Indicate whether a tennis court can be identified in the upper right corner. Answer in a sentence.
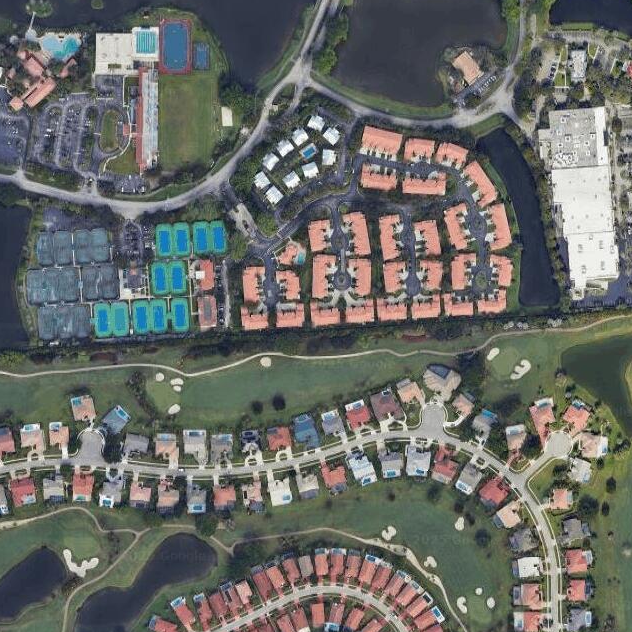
No, no tennis court is visible in the upper right corner.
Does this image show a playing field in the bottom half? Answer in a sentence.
No, no playing field is visible in the bottom half.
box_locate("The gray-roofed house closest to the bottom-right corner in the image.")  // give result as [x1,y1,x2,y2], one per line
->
[567,610,587,631]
